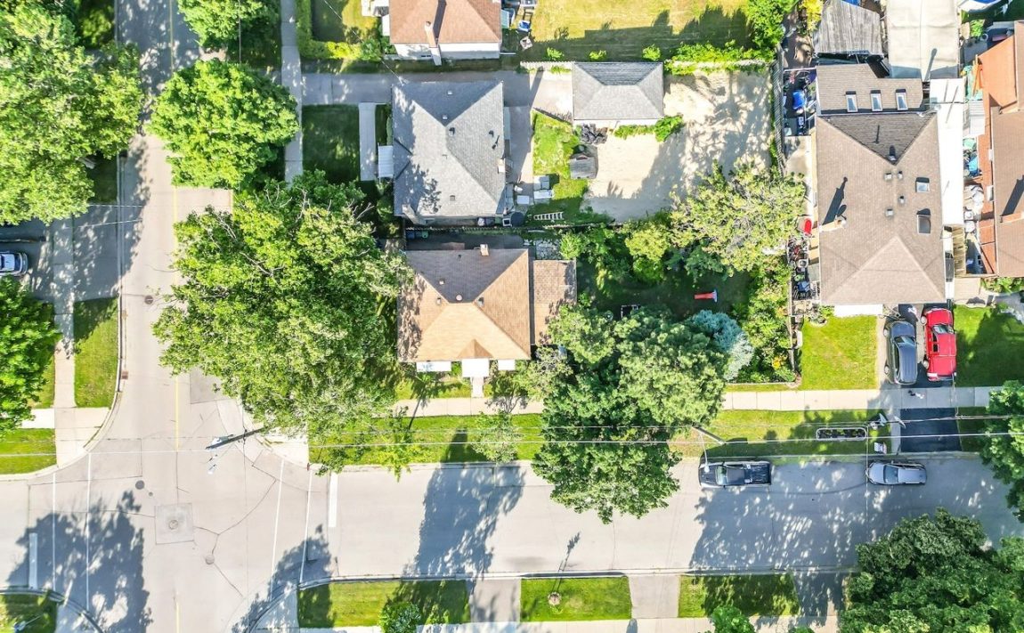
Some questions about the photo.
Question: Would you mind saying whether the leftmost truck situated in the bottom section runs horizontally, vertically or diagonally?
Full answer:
The leftmost truck situated in the bottom section is oriented horizontally.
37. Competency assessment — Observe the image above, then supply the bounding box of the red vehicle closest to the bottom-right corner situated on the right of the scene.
[922,310,958,380]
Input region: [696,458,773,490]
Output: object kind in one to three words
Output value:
truck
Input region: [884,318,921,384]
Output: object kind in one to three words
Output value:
car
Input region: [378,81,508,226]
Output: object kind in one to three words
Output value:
house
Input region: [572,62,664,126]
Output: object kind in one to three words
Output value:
building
